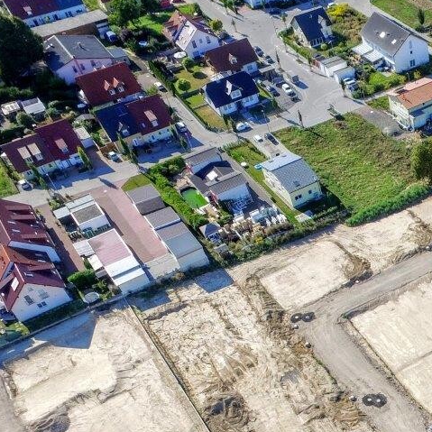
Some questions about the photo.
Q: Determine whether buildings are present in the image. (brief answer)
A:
Yes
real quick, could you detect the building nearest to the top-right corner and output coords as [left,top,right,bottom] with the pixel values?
[361,12,427,72]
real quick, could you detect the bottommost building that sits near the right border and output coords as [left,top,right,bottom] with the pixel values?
[387,78,432,130]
